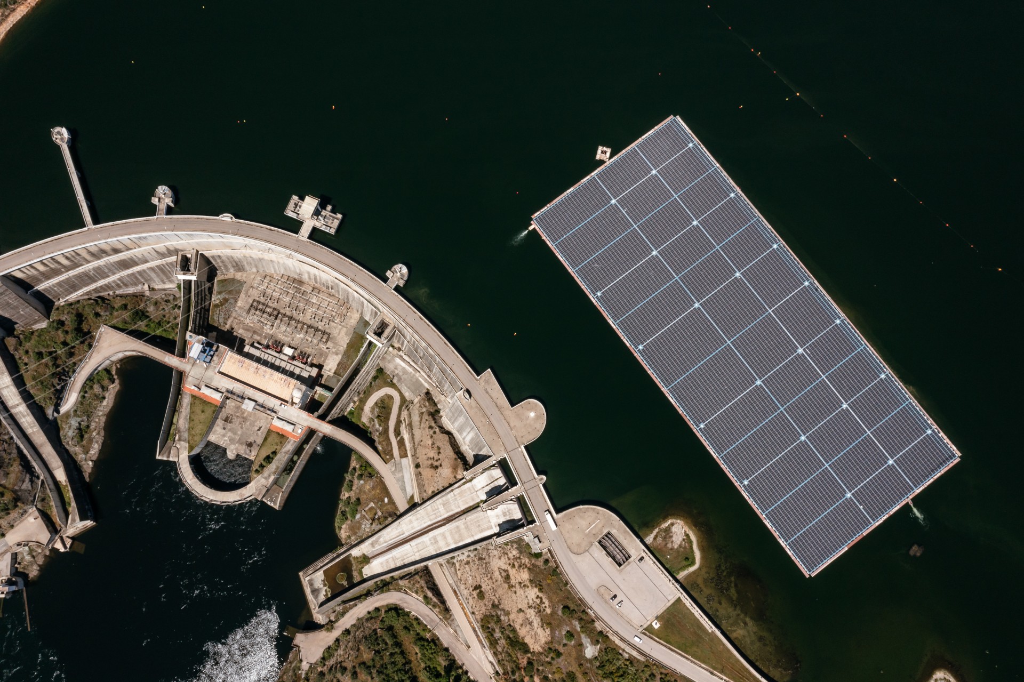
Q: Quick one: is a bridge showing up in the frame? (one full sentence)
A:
Yes, looking at the shot, I can spot a bridge.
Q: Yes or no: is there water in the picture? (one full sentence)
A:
Yes, water can be seen from above here.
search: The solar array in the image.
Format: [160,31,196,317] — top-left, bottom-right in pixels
[530,115,962,579]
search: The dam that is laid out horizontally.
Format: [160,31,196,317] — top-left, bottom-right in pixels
[0,215,477,397]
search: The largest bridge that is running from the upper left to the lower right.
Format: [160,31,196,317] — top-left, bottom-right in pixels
[307,416,410,511]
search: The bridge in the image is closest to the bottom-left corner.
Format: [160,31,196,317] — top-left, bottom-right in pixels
[59,325,187,415]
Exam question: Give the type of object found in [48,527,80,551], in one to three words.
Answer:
building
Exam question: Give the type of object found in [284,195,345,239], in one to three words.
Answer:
building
